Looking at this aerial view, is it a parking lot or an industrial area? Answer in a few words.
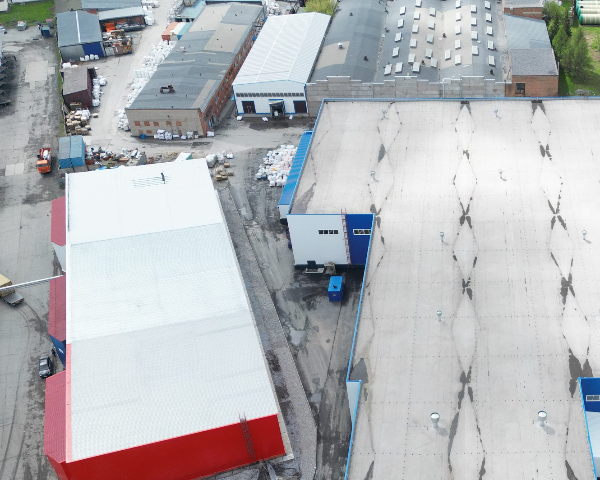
industrial area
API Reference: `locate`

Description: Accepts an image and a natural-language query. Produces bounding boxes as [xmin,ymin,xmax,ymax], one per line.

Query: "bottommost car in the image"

[34,358,54,376]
